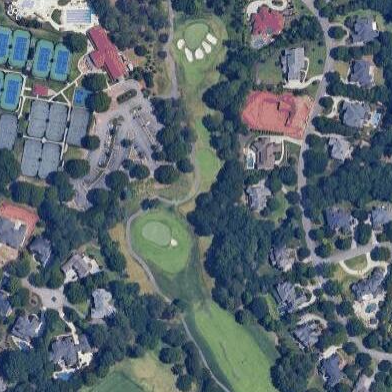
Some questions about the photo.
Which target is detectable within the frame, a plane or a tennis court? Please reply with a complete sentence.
Looking from above, you can make out a tennis court.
